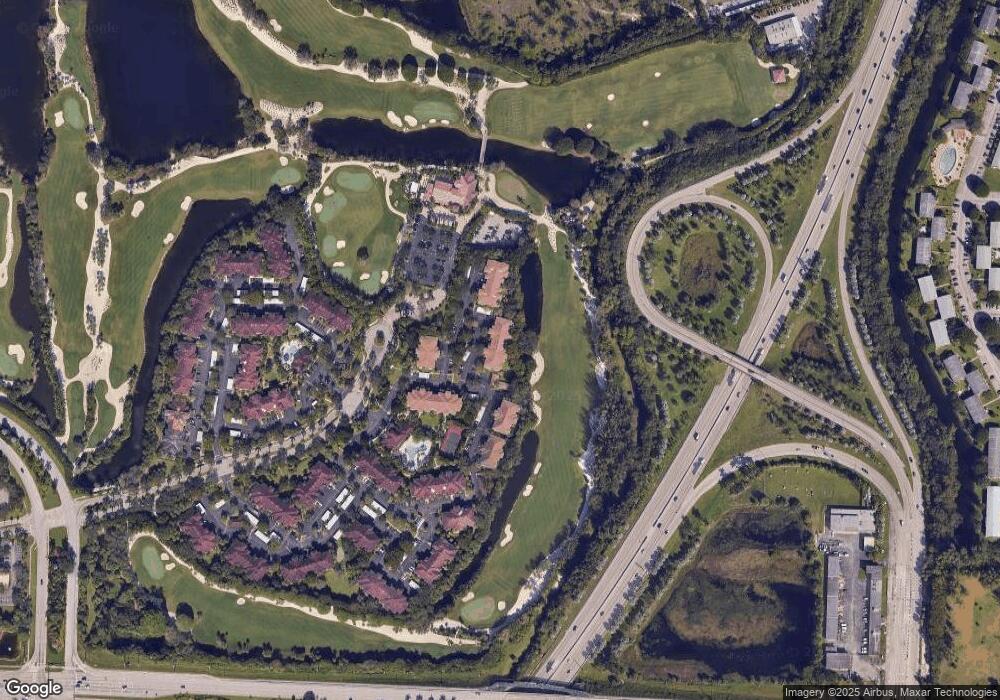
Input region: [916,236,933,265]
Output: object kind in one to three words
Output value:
building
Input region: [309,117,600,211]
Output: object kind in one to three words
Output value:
pond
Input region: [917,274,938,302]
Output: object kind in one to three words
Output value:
building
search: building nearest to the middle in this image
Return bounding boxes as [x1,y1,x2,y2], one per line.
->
[482,316,514,373]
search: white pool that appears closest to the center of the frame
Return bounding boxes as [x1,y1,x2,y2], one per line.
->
[399,433,434,473]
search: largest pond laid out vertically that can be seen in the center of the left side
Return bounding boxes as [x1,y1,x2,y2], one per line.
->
[10,201,58,430]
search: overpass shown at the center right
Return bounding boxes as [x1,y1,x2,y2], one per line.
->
[681,328,913,504]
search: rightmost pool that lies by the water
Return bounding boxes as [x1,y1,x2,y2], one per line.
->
[930,129,972,187]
